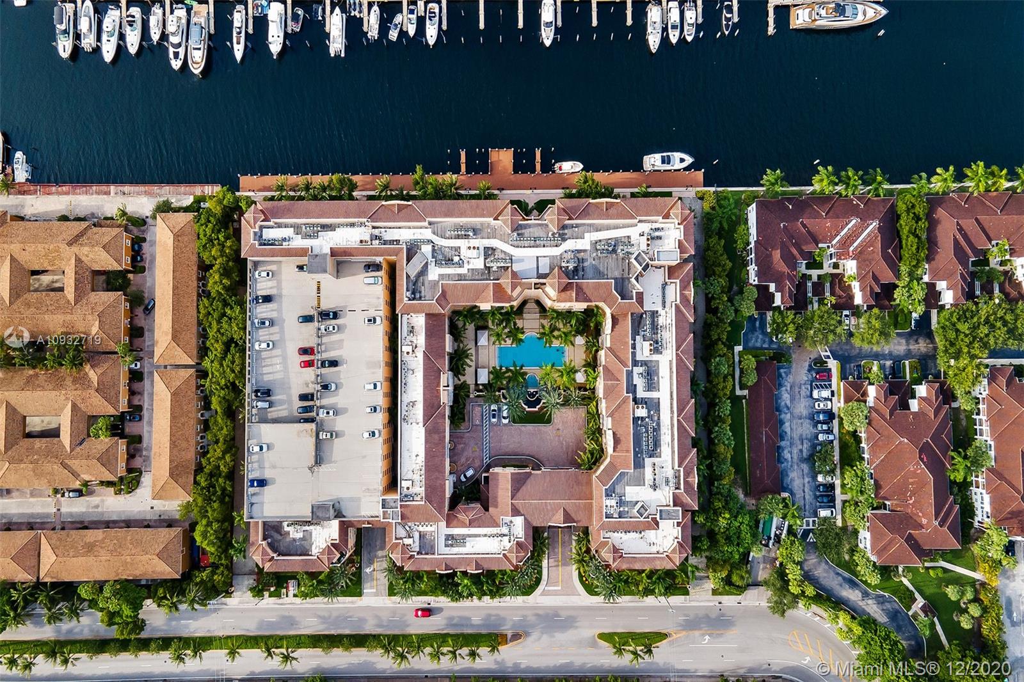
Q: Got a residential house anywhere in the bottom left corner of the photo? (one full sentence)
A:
Yes, the scene does show a residential house in the bottom left corner of the photo.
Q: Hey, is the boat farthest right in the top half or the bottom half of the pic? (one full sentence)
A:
The boat farthest right is in the top half of the image.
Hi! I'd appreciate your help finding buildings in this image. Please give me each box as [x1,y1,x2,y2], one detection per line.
[960,366,1024,536]
[0,354,132,488]
[39,523,190,582]
[910,191,1024,309]
[741,194,903,311]
[838,379,962,566]
[241,197,701,576]
[151,369,205,500]
[154,213,208,365]
[914,599,938,620]
[0,221,136,351]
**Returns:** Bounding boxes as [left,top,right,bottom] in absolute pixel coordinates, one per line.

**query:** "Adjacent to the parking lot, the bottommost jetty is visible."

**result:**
[240,150,703,191]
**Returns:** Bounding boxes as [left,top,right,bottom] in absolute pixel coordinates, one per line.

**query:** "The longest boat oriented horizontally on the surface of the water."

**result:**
[782,1,890,30]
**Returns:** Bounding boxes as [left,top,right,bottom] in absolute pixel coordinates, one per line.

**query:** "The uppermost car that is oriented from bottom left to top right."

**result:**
[142,298,156,316]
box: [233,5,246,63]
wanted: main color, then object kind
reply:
white boat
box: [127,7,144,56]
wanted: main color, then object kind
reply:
white boat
